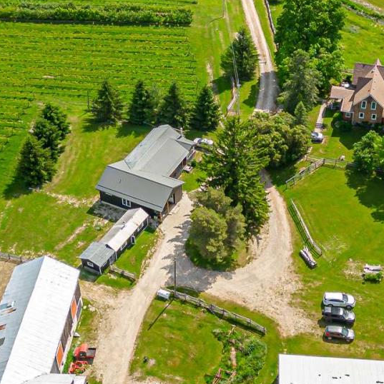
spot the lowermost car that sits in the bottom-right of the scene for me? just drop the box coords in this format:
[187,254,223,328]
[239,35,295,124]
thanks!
[325,328,354,344]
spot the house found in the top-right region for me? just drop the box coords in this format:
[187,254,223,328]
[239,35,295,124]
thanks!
[329,51,384,131]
